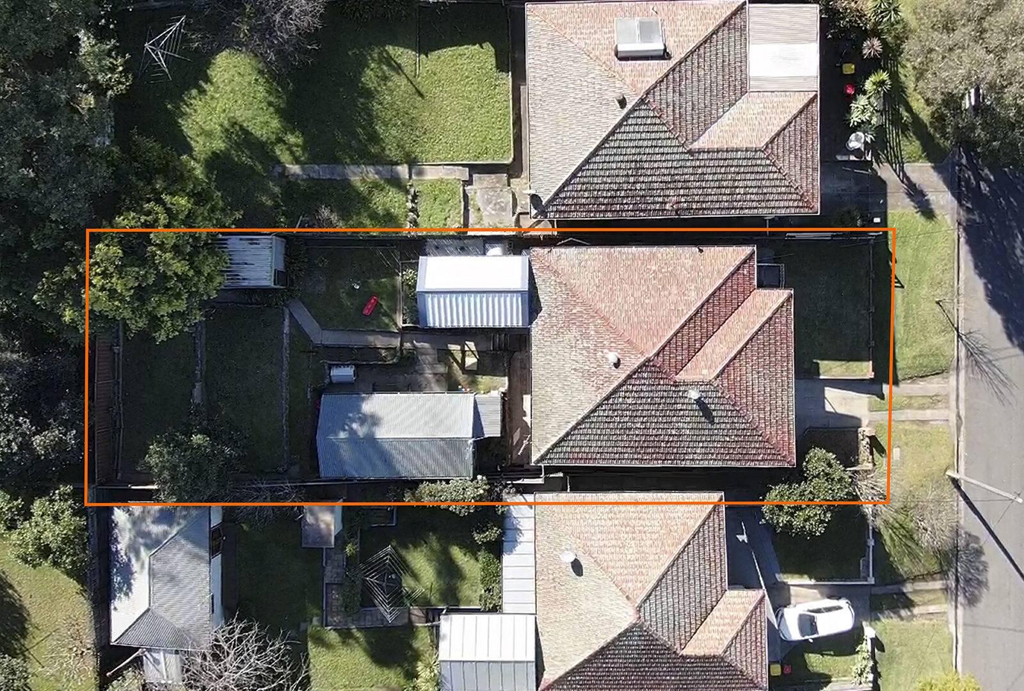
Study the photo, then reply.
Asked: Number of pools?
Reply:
0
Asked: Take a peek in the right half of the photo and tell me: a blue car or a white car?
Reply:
white car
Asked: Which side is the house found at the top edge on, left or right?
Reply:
right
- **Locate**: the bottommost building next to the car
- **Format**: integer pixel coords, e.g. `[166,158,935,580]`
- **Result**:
[532,488,770,691]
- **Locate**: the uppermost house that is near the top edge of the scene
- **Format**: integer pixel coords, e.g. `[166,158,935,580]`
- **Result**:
[524,0,824,221]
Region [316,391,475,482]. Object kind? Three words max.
shed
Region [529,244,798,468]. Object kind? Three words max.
house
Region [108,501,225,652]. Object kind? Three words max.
shed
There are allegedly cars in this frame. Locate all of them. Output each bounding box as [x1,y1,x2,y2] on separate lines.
[774,594,858,643]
